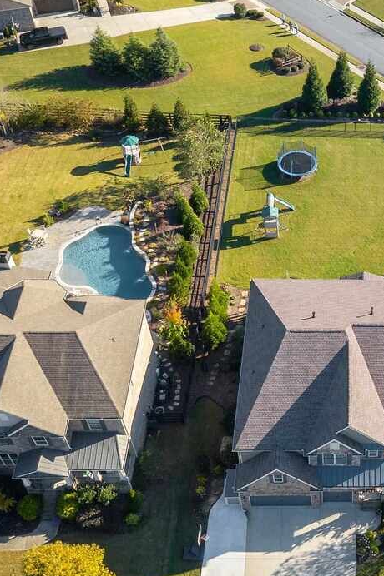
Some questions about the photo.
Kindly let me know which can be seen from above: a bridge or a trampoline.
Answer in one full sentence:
I can see a trampoline in this picture.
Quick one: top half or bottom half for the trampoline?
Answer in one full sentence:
Seen from above, the trampoline lies in the top half of the view.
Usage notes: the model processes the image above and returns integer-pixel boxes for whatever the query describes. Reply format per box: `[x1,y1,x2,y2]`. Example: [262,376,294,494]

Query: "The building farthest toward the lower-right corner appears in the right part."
[222,269,384,509]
